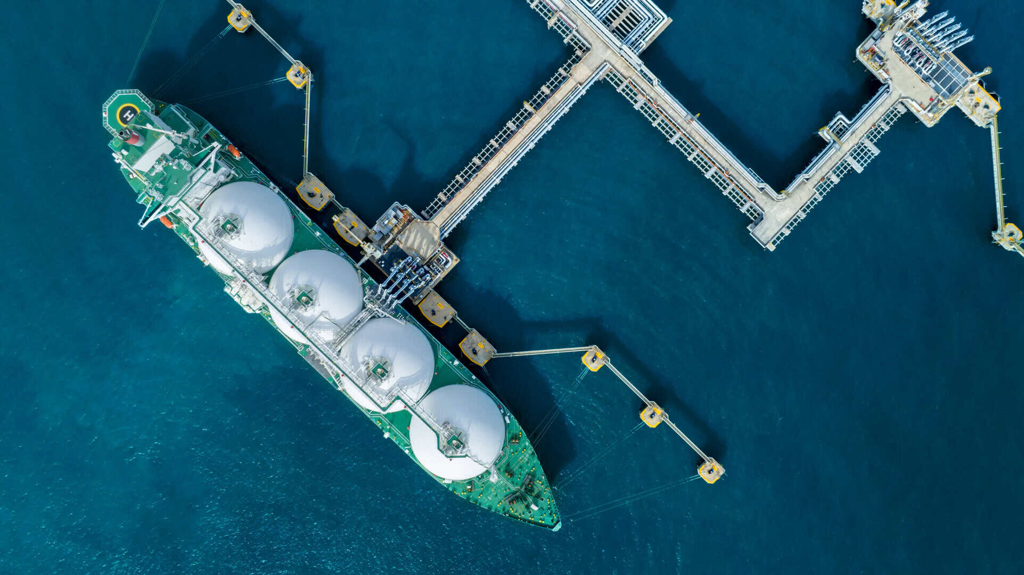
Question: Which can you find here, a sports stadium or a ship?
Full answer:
This aerial view contains a ship.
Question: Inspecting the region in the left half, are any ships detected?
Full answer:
Yes, a ship appears in the left half.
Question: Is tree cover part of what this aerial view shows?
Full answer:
No, the picture contains no tree cover.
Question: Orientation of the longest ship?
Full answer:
I'd say the longest ship is aligned at an angle in the picture.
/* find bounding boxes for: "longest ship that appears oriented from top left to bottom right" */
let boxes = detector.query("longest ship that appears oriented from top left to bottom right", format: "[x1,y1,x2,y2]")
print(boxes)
[103,89,561,533]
